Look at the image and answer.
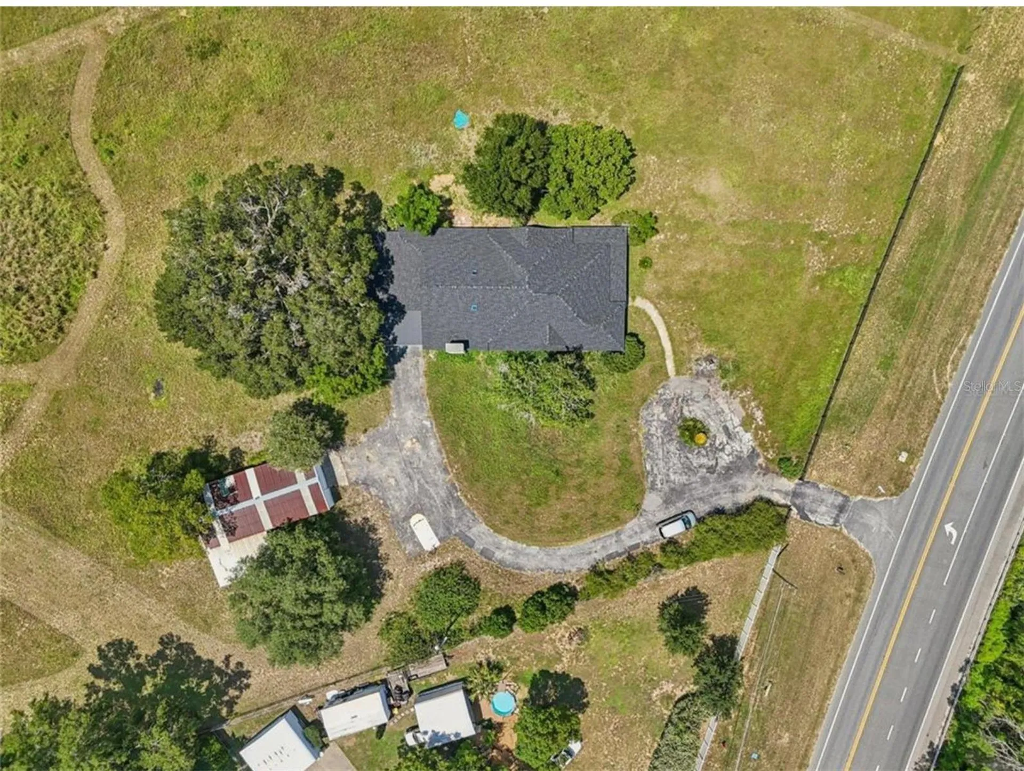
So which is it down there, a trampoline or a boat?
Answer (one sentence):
I can see a boat in this picture.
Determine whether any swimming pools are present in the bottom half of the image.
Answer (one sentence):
Yes, you'll find a swimming pool in the bottom half of the image.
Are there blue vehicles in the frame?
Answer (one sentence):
No, no blue vehicle is visible in the scene.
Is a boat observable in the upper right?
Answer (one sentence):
No, I see no boat in the upper right.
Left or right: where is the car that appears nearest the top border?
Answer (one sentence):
You can find the car that appears nearest the top border on the right side of the picture.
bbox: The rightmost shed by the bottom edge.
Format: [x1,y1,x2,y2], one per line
[415,681,475,747]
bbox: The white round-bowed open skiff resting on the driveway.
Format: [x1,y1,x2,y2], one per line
[412,513,441,553]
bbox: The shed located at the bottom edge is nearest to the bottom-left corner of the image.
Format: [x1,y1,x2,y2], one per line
[240,710,320,771]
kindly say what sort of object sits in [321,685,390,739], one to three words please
shed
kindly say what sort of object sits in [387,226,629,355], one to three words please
house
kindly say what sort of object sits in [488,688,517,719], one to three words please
swimming pool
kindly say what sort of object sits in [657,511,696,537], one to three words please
car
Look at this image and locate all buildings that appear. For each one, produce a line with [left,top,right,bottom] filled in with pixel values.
[387,226,629,355]
[415,681,475,747]
[321,685,390,739]
[240,710,320,771]
[200,449,334,587]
